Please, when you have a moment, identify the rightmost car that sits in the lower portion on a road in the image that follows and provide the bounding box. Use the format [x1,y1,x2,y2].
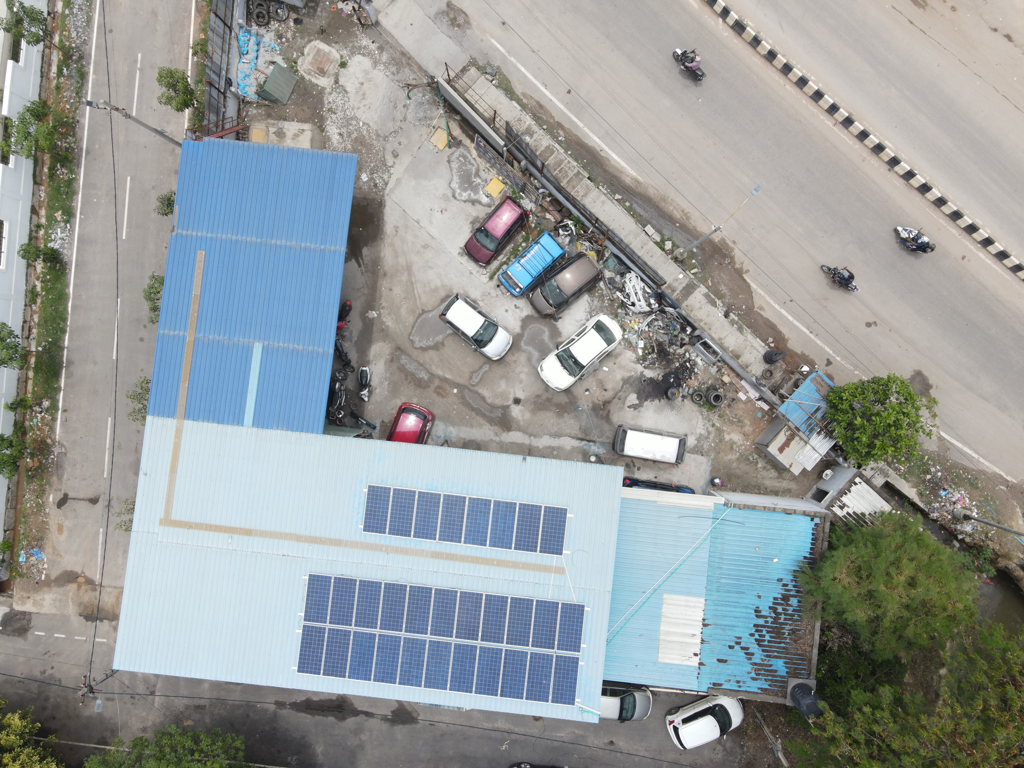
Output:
[664,694,744,754]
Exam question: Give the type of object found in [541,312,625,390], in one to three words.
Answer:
car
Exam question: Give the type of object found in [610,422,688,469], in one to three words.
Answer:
van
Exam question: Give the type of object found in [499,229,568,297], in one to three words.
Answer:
van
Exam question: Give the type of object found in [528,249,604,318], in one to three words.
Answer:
car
